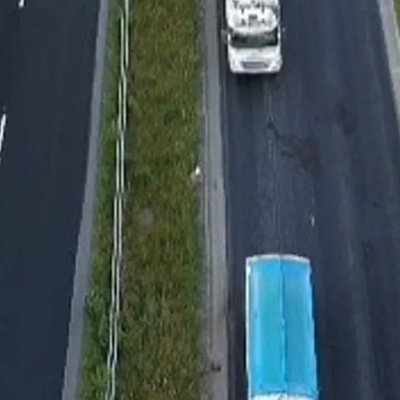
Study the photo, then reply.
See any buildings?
No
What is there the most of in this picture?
paved ground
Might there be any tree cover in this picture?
No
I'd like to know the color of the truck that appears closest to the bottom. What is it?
blue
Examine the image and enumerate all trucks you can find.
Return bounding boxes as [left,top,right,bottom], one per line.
[244,257,320,400]
[225,0,291,72]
